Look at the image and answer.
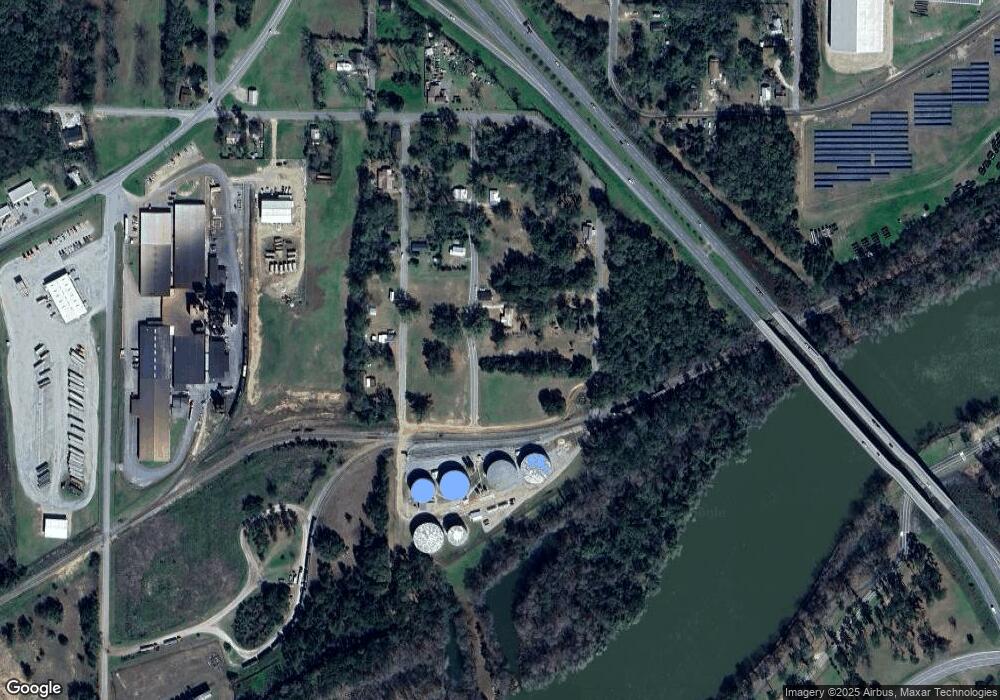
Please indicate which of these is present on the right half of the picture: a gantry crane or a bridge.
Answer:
bridge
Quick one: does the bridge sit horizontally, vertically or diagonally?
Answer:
diagonally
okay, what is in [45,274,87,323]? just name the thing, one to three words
building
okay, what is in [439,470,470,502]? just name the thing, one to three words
storage tank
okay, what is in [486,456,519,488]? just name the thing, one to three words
storage tank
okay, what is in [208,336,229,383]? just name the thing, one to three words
shed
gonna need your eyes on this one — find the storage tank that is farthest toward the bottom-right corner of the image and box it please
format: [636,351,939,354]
[521,453,552,484]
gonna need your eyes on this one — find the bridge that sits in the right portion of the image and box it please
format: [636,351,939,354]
[755,318,942,522]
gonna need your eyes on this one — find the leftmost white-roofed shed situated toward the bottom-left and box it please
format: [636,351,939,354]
[44,519,67,539]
